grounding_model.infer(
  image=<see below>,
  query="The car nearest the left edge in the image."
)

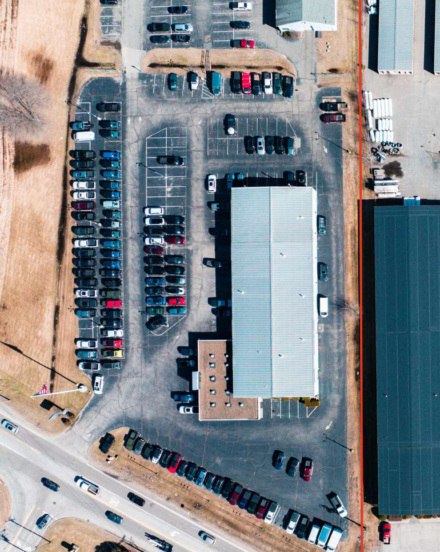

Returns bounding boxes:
[1,419,20,433]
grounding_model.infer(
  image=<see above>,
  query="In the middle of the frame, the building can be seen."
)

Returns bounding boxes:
[192,187,318,420]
